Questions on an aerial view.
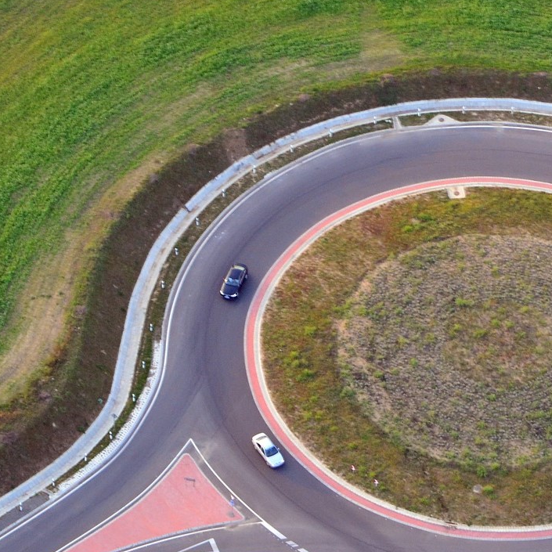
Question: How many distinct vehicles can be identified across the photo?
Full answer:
The number of vehicles here is 2.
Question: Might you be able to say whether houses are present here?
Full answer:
No, no house is visible in the view.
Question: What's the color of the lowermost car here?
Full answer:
The lowermost car is white.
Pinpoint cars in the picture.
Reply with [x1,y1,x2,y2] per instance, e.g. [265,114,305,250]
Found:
[220,264,247,295]
[251,432,285,467]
